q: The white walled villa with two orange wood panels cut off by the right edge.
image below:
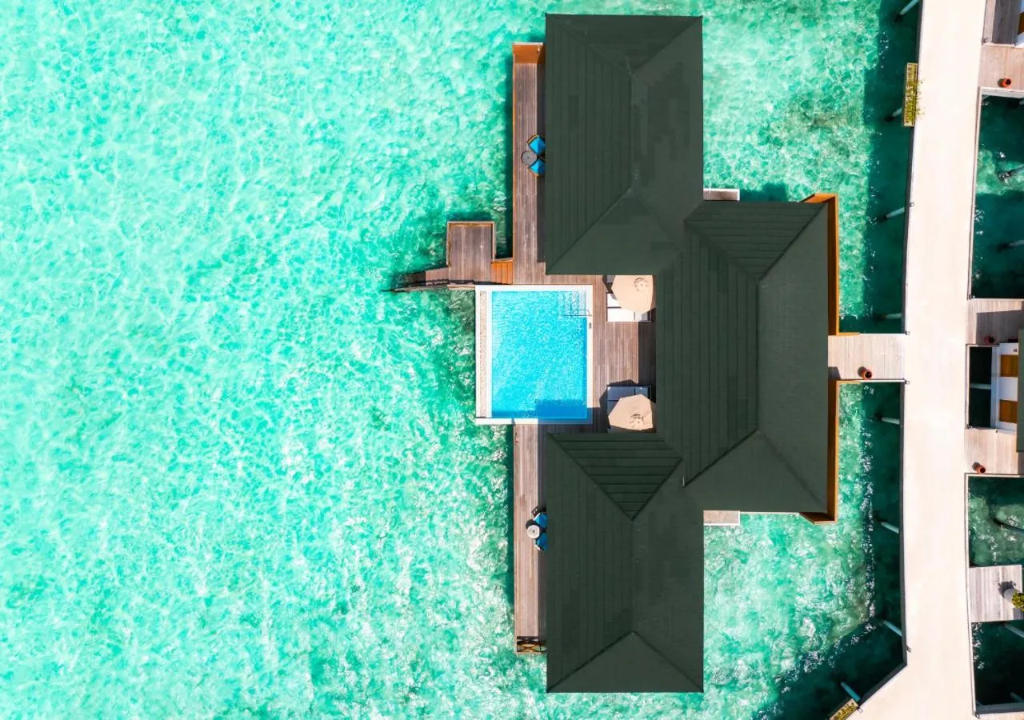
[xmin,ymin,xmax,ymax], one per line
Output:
[966,328,1024,454]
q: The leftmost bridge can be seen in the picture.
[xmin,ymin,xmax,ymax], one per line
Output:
[828,333,907,383]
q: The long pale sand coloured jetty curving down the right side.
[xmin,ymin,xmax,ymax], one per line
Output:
[846,0,986,720]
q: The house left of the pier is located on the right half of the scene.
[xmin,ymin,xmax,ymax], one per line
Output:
[513,13,830,694]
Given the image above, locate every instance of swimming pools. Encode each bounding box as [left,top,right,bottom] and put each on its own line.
[476,285,593,424]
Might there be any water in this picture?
Yes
